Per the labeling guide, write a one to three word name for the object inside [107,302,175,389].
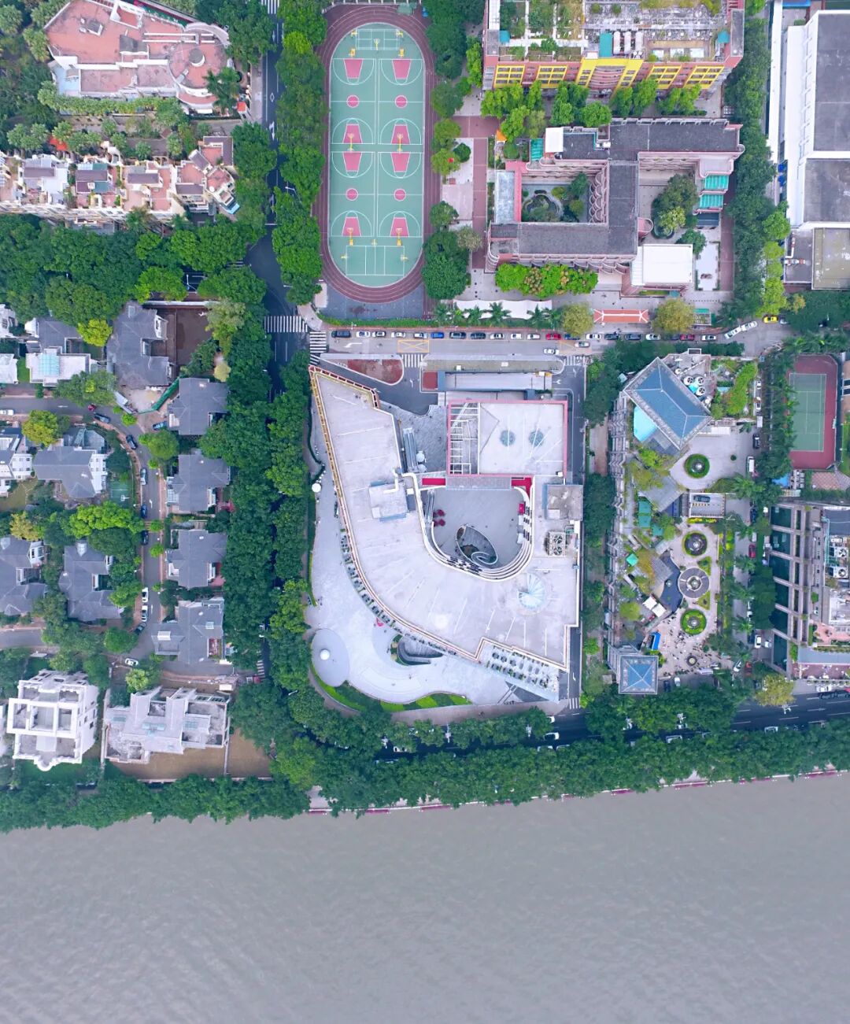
house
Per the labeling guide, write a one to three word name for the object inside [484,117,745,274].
building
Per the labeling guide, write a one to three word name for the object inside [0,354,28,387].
house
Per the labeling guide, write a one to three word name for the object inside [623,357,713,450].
building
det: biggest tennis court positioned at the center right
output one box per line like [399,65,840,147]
[786,354,838,469]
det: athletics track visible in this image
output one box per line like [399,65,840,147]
[318,6,434,303]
